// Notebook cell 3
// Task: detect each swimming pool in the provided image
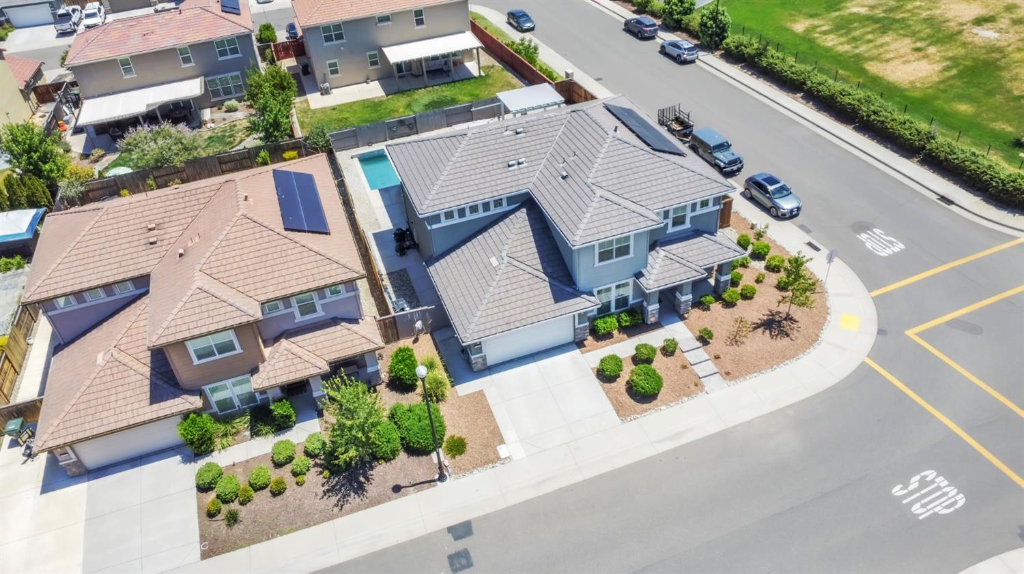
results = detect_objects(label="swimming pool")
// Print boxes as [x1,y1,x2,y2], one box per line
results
[347,139,402,191]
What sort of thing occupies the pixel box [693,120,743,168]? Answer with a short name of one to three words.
vehicle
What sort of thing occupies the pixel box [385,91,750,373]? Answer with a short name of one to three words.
house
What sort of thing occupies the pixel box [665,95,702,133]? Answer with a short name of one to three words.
trailer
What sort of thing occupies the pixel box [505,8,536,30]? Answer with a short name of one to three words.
car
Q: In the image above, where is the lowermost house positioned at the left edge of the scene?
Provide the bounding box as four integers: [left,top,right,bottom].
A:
[20,152,386,479]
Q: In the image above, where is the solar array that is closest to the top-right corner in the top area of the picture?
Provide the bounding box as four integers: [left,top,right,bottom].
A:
[601,102,688,157]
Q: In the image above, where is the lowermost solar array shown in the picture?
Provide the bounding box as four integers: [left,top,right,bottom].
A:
[272,169,330,235]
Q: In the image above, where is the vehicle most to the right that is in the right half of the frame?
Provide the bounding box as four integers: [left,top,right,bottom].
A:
[743,171,803,220]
